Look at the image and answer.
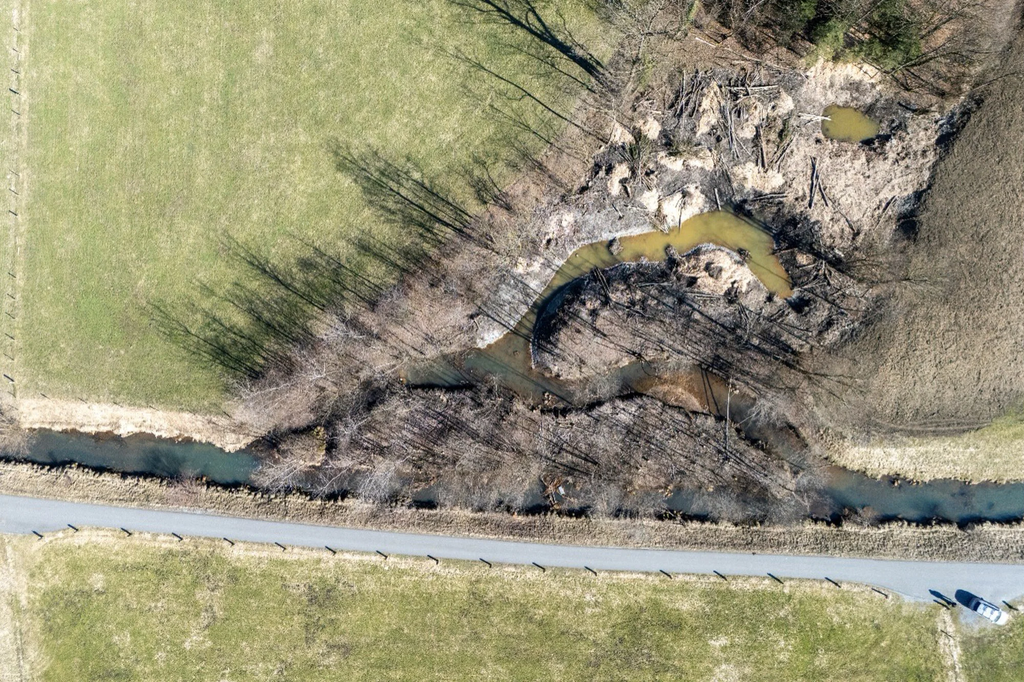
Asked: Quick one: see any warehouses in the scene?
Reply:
No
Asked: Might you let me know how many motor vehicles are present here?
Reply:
1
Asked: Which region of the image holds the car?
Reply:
bottom right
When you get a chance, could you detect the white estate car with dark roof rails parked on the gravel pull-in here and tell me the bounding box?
[966,595,1012,626]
